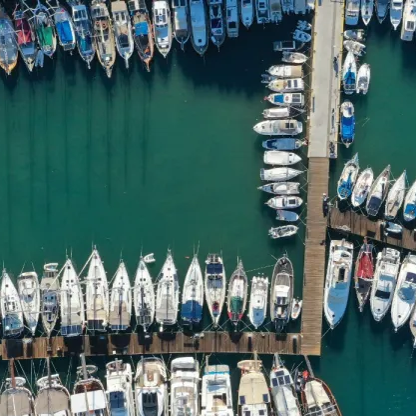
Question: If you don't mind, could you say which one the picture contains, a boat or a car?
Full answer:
The image shows a boat.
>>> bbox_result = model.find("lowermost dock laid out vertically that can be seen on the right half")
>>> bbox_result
[301,157,330,355]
